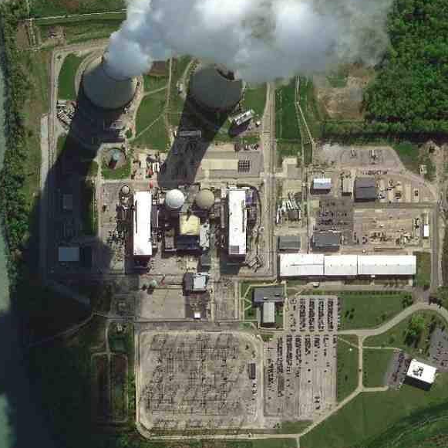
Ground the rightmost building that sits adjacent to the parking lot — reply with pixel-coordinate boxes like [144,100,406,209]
[357,255,416,275]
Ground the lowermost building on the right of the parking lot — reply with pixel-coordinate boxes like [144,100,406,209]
[405,357,437,386]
